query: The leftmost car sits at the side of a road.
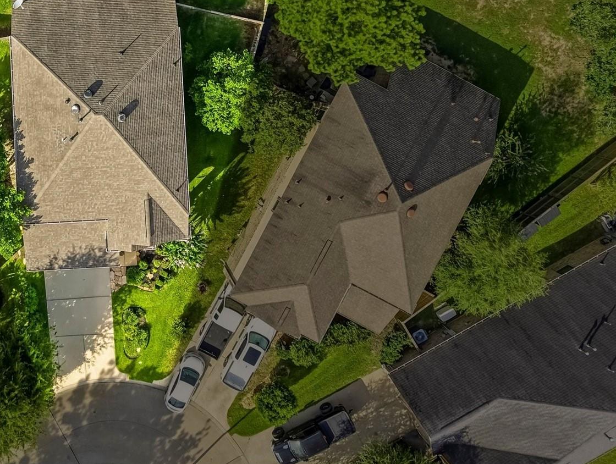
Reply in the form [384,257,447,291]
[162,346,206,416]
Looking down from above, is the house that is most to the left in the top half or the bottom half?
top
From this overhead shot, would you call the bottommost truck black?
Yes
